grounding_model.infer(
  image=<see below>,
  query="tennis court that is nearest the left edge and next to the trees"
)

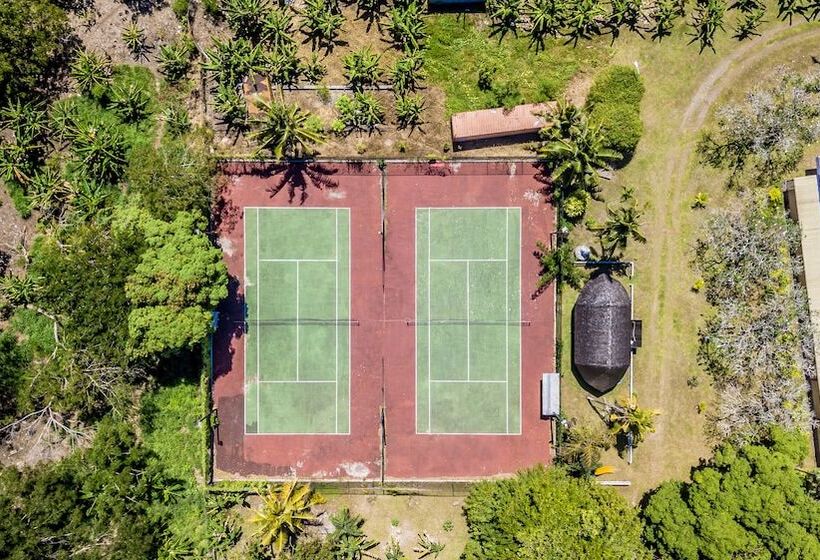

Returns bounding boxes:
[213,162,383,481]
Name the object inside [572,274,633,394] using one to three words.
shed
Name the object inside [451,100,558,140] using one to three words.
shed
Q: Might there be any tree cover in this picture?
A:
Yes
